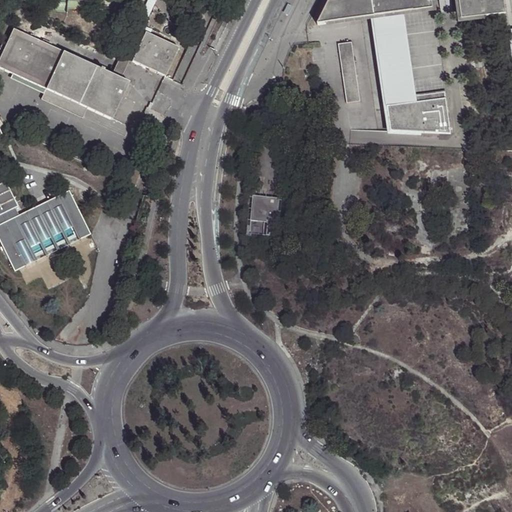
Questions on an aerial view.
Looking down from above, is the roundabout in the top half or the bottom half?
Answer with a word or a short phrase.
bottom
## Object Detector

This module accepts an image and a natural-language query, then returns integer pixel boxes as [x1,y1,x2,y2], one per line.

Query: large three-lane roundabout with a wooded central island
[95,314,304,512]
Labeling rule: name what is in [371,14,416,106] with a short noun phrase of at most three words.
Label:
building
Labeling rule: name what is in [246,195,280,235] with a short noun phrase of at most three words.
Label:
house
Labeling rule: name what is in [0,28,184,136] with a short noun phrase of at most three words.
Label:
building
